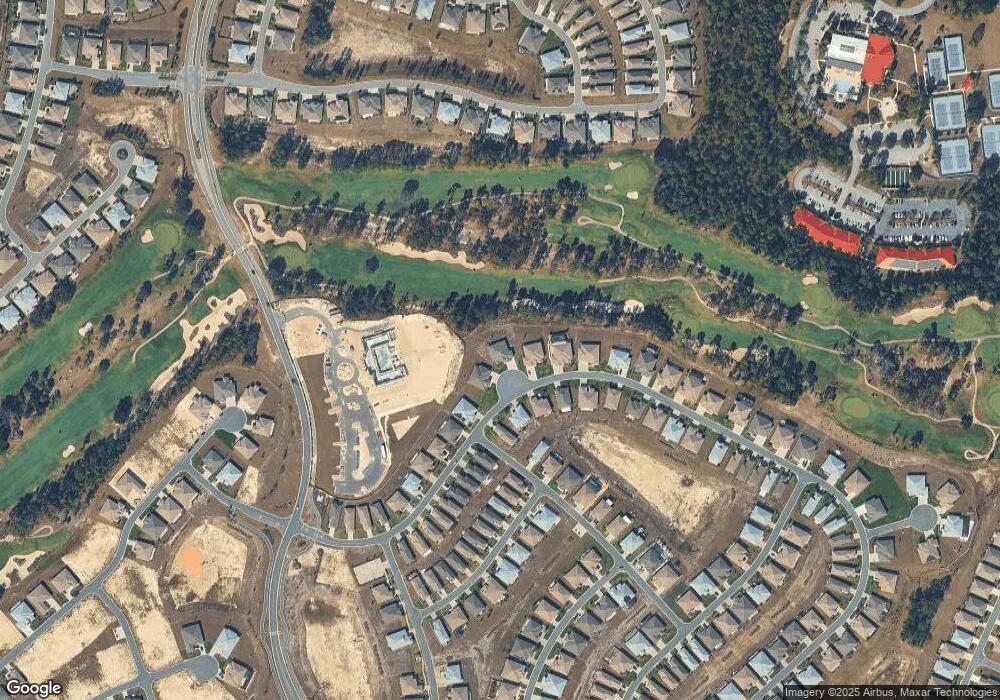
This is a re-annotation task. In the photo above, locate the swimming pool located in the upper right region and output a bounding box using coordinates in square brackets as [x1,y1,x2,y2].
[823,66,862,102]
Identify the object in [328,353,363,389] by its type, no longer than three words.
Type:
roundabout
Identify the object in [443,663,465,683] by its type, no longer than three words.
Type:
house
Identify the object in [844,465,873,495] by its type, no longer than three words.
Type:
house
